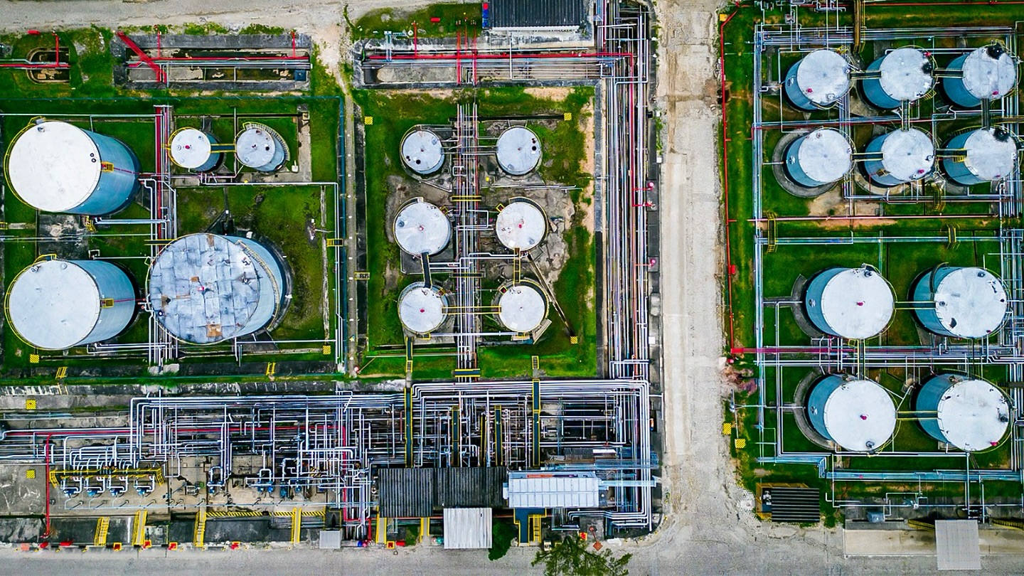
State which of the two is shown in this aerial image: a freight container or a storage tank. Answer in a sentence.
The one in the frame is a storage tank.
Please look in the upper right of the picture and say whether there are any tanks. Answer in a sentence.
Yes, looking in the upper right of the picture, one can make out a tank.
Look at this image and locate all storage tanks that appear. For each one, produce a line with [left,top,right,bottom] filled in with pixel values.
[495,280,550,337]
[783,50,856,113]
[398,127,448,179]
[142,229,293,347]
[907,264,1016,345]
[0,255,143,356]
[856,41,941,119]
[231,121,289,177]
[0,116,144,223]
[852,123,942,197]
[913,372,1018,457]
[492,195,550,252]
[773,123,859,200]
[493,124,546,181]
[793,262,901,349]
[395,281,447,338]
[392,195,452,258]
[164,124,227,176]
[941,40,1024,110]
[795,372,905,457]
[941,120,1024,195]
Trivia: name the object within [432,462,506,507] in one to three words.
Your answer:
shed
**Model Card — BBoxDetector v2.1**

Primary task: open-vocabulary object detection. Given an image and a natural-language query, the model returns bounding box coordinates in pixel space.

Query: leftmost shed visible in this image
[378,462,433,517]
